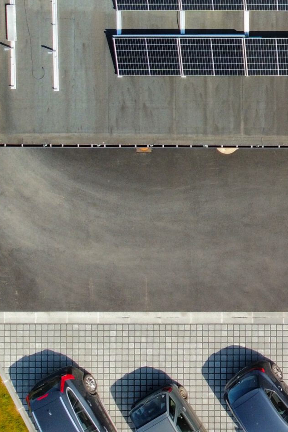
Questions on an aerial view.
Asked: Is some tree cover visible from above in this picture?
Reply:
No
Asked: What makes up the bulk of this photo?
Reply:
paved ground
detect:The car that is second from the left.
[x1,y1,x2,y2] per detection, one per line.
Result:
[129,383,205,432]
